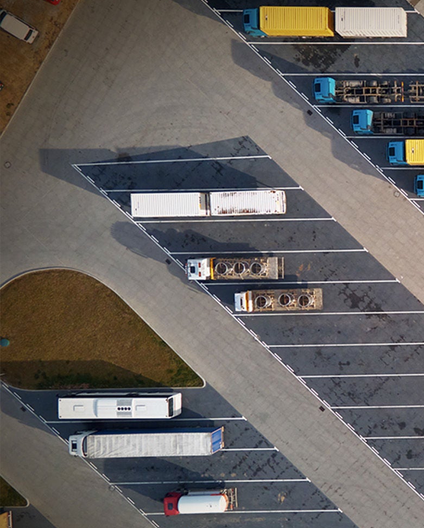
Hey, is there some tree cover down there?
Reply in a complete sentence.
No, tree cover can't be seen anywhere here.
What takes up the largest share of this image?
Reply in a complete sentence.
The bulk of the photo consists of paved ground.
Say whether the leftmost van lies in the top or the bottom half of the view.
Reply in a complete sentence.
It is in the top half that the leftmost van appears.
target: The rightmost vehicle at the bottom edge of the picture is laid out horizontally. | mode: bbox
[163,486,238,516]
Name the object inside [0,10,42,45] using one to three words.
van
